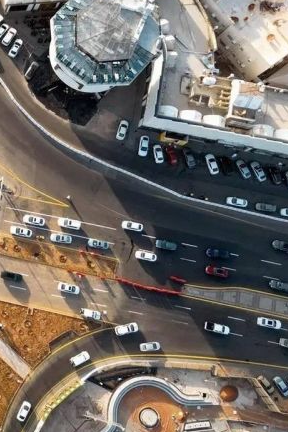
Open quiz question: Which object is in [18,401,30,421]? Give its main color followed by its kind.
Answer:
white vehicle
